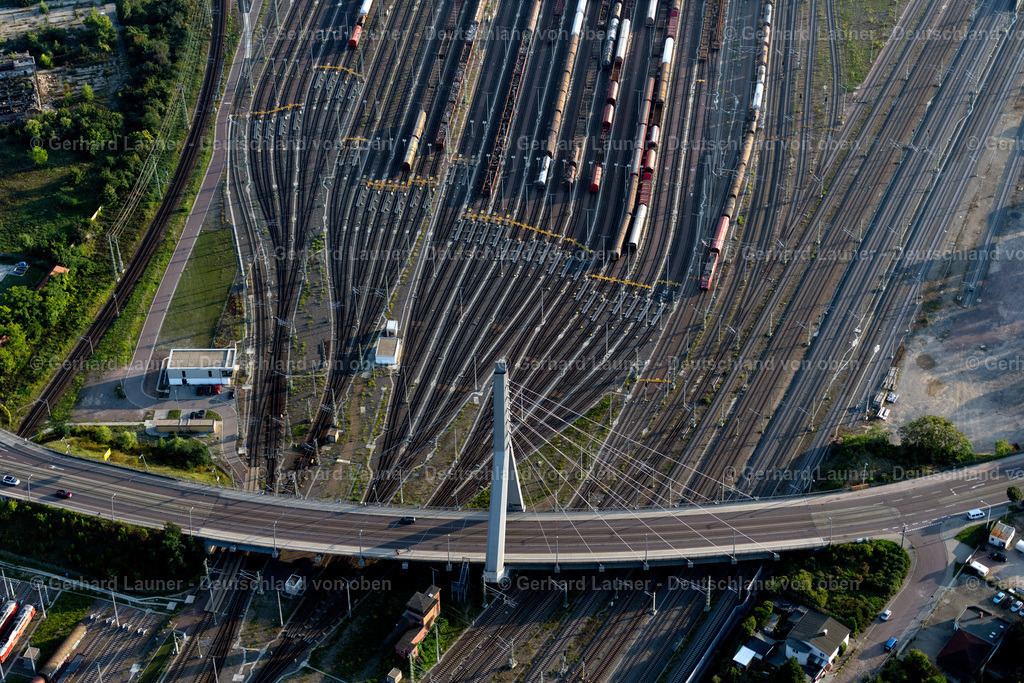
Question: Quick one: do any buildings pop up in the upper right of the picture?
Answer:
No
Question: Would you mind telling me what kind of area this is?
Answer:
rail yard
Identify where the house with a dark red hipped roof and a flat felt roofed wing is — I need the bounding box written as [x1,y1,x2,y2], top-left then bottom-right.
[936,602,1010,683]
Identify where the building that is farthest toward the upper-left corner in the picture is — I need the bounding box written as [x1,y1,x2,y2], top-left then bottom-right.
[0,41,43,116]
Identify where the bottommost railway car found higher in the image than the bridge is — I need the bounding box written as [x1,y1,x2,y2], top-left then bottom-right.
[701,252,718,292]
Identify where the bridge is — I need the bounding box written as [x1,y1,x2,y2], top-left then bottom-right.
[0,357,904,600]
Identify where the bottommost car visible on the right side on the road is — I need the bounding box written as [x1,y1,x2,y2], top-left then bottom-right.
[883,639,899,654]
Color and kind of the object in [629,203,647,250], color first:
white rail car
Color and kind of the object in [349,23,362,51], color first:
red rail car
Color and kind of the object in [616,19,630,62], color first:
white rail car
